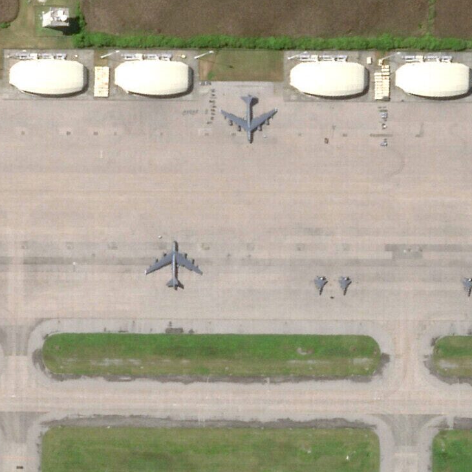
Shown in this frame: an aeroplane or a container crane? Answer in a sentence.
Visible in the photo is an aeroplane.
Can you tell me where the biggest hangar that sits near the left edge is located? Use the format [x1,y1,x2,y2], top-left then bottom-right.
[9,55,85,95]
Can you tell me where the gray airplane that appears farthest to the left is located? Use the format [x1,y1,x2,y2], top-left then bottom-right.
[146,241,202,289]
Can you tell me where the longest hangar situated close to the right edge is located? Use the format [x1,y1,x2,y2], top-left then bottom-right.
[396,57,471,97]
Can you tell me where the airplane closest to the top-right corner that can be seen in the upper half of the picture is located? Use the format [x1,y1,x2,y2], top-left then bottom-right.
[221,93,277,141]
